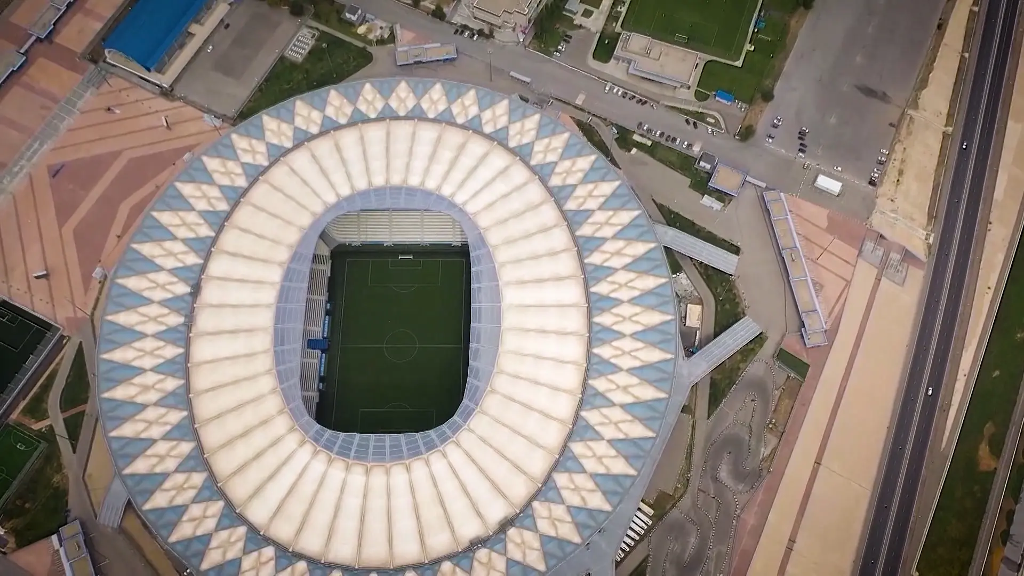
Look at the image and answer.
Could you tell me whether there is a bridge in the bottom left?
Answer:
Yes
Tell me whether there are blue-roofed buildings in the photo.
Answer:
Yes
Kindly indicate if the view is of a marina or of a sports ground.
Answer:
sports ground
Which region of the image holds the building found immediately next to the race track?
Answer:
right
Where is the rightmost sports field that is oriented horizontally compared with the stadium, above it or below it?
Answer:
above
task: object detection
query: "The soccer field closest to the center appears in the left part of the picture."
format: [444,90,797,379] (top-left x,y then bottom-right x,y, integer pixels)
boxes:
[318,245,474,433]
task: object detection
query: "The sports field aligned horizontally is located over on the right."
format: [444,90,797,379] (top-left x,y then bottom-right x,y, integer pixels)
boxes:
[616,0,761,65]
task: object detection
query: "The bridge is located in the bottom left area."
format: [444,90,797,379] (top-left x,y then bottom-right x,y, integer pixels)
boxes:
[96,472,129,528]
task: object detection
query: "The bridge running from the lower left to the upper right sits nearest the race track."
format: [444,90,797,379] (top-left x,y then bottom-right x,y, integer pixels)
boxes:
[688,316,763,385]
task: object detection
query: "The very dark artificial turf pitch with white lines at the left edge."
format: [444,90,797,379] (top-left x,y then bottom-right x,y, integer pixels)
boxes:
[0,296,62,417]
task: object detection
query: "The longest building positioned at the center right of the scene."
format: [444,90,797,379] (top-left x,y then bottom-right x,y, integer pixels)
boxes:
[761,190,828,351]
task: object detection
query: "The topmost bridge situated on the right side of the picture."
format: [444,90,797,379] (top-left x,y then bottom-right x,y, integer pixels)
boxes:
[653,222,740,275]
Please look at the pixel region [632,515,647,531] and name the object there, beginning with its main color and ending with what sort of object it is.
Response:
white vehicle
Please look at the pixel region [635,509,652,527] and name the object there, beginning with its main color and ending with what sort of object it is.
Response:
white vehicle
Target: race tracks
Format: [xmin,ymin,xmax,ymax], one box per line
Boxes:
[647,358,777,576]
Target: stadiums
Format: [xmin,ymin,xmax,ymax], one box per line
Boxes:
[95,79,692,576]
